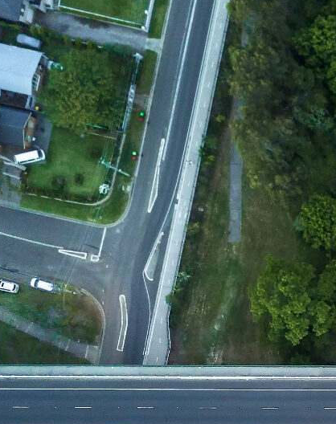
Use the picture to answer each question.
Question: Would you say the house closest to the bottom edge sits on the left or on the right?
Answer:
left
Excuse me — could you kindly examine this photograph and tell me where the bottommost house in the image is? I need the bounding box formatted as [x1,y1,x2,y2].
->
[0,106,37,150]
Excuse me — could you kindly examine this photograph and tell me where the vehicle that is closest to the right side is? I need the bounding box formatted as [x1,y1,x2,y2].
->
[28,277,54,291]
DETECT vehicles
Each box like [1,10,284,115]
[15,31,40,46]
[12,147,44,164]
[0,280,17,292]
[28,277,54,291]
